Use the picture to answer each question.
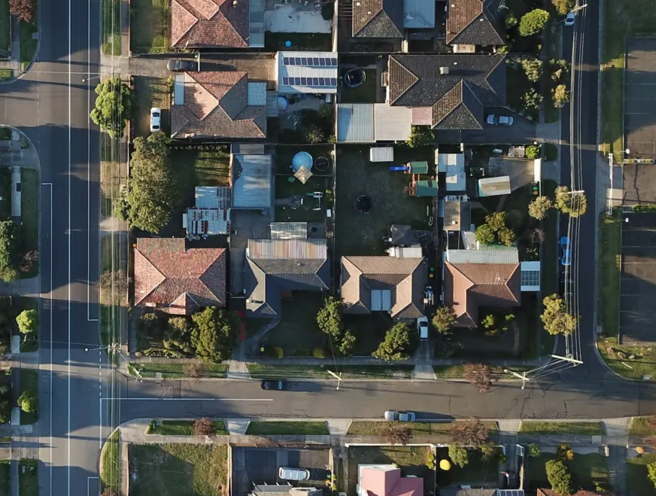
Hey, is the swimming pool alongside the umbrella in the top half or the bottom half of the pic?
top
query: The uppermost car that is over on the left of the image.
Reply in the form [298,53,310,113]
[165,58,197,72]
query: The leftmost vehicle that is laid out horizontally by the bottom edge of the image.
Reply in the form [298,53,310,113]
[278,467,309,481]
